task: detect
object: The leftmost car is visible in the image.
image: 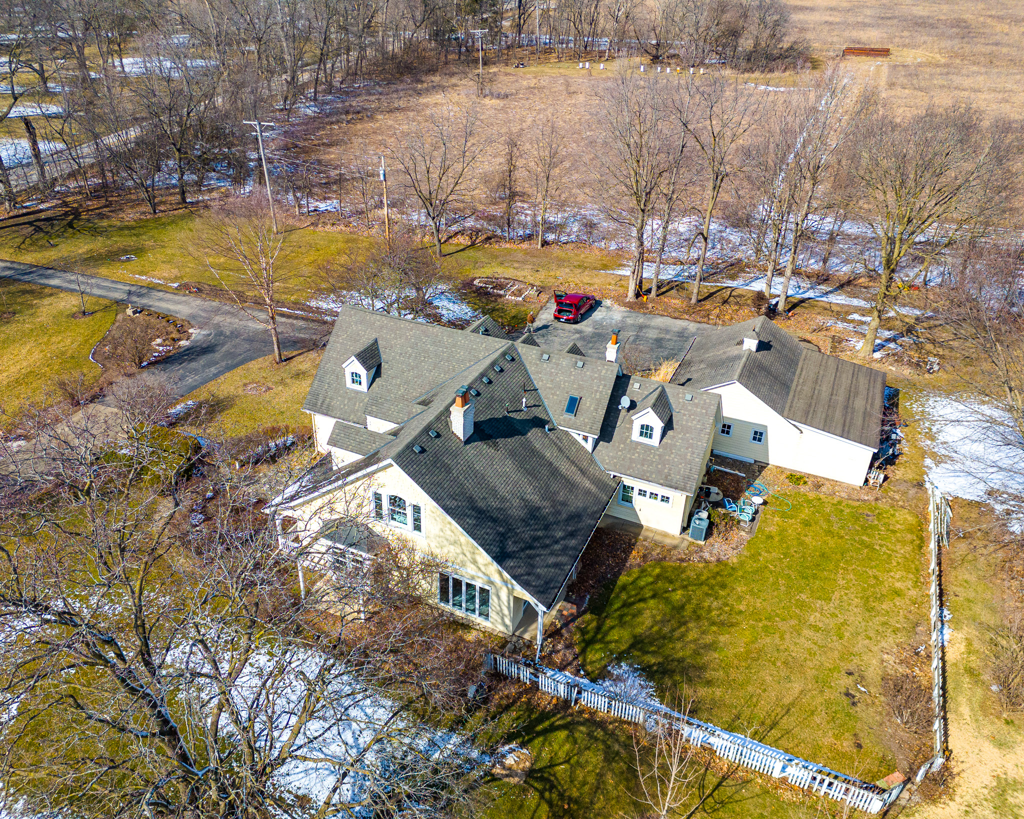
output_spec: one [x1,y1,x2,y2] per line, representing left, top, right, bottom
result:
[554,289,597,323]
